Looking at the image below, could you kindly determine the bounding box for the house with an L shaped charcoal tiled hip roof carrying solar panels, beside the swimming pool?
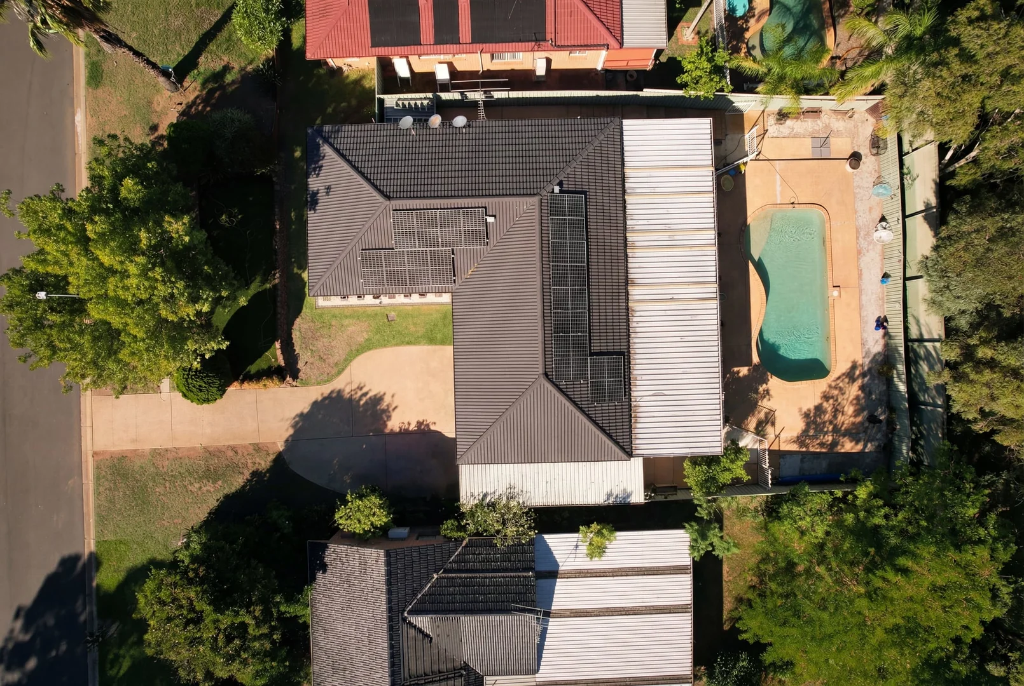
[306,115,634,466]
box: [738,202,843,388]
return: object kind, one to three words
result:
swimming pool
